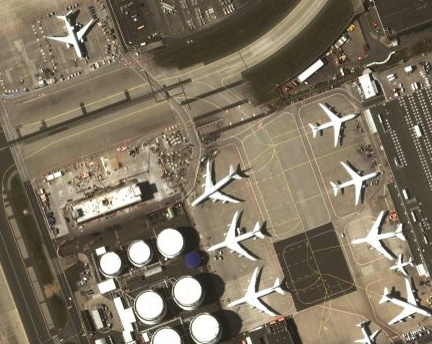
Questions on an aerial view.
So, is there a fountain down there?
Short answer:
No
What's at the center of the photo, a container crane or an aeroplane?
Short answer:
aeroplane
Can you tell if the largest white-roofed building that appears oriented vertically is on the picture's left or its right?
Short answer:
left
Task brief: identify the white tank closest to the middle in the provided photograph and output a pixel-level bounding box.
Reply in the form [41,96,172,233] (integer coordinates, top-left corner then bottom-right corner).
[155,228,185,259]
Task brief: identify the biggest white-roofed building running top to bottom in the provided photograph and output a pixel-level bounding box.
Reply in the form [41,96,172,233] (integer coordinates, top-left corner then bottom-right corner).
[114,296,136,343]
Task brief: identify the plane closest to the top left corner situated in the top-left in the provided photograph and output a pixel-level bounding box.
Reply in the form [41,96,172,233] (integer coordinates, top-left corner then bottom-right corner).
[44,10,94,58]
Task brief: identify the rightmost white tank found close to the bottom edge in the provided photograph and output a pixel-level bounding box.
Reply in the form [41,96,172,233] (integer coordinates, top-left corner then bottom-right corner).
[189,314,221,344]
